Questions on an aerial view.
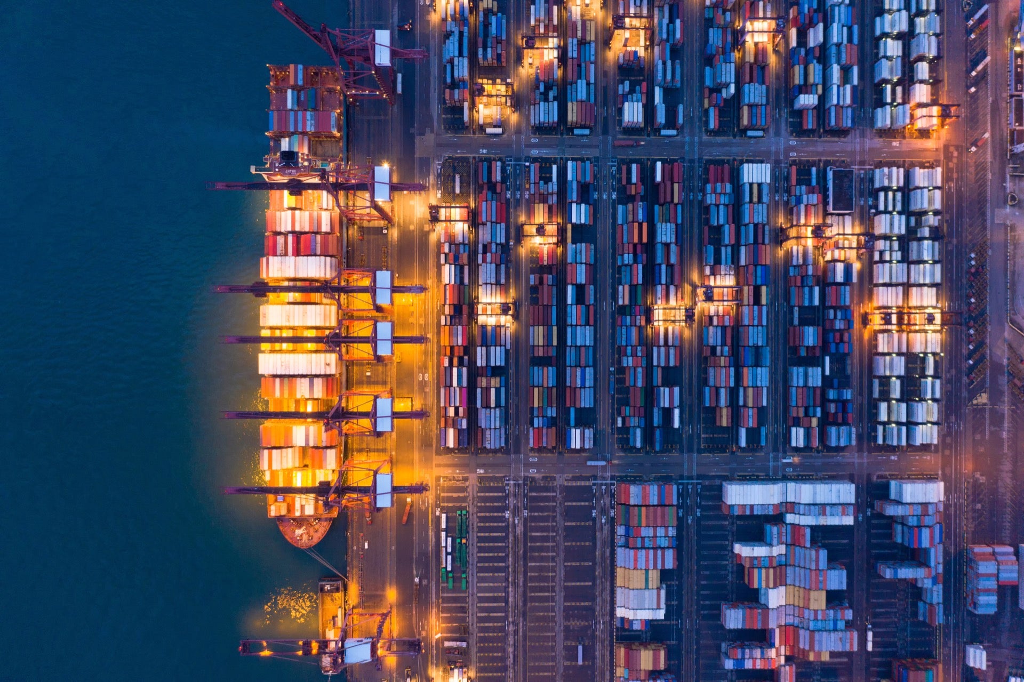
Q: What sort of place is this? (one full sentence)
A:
The picture captures a port.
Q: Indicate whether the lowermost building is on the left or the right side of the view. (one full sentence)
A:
You can find the lowermost building on the right side of the picture.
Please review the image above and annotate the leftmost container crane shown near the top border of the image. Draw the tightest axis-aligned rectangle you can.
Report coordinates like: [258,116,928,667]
[275,1,434,98]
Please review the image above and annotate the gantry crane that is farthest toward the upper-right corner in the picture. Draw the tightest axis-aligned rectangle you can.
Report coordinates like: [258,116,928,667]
[899,102,956,131]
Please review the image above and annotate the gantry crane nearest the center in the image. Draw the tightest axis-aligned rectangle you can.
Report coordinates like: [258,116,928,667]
[475,299,518,321]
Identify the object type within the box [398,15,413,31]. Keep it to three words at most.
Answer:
work vehicle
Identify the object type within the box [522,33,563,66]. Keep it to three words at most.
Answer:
container crane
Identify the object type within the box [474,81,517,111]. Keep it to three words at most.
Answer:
container crane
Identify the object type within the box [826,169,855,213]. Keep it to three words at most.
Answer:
building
